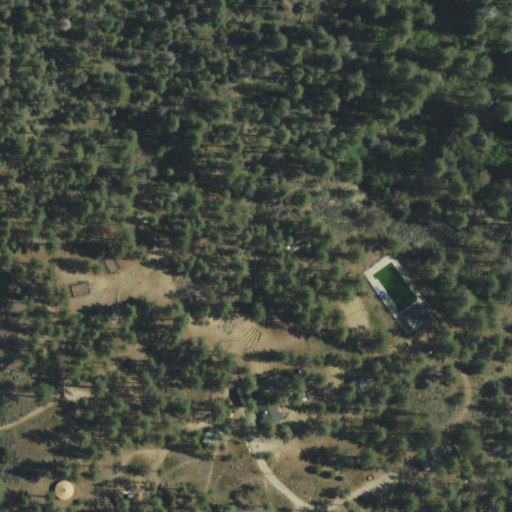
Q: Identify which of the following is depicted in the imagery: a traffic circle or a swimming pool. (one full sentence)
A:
It is a swimming pool that can be seen here.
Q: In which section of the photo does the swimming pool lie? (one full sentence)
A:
The swimming pool appears toward the right of the photo.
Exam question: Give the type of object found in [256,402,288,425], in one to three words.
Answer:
house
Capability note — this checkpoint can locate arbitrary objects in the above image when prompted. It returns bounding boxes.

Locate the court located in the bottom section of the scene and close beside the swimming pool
[344,295,371,329]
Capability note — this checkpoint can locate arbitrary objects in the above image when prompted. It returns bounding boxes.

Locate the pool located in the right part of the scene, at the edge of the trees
[364,256,432,334]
